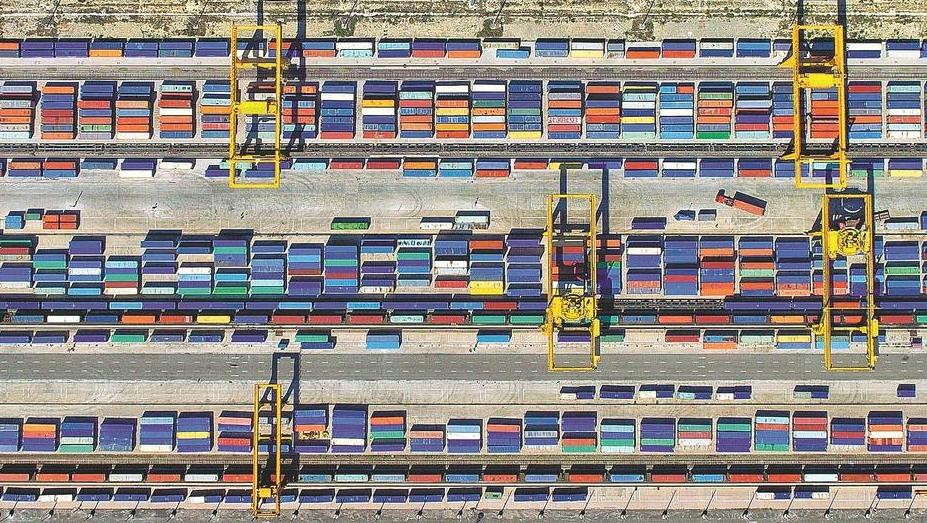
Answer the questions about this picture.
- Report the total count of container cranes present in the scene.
5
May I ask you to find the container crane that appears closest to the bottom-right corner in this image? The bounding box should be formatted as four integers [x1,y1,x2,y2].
[800,192,880,368]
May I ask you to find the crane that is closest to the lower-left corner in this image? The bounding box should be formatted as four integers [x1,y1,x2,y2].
[249,385,297,516]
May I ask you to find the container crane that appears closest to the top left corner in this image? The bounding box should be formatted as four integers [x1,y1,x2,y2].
[229,25,298,187]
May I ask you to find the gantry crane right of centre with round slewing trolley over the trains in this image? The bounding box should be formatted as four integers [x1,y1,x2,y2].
[534,193,604,369]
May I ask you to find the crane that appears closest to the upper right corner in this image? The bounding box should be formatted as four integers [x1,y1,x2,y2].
[771,26,847,188]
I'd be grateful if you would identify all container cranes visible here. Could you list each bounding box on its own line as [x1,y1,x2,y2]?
[771,26,847,188]
[249,385,297,516]
[800,192,880,368]
[534,193,604,369]
[229,25,298,187]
